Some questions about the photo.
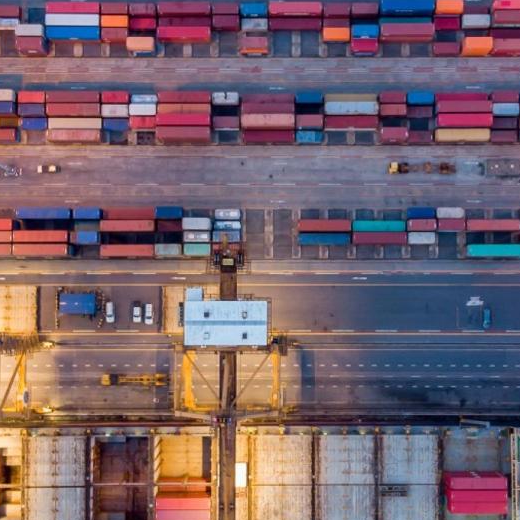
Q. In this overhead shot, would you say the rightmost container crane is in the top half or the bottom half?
bottom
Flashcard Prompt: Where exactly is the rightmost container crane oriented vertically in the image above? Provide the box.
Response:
[167,231,300,520]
